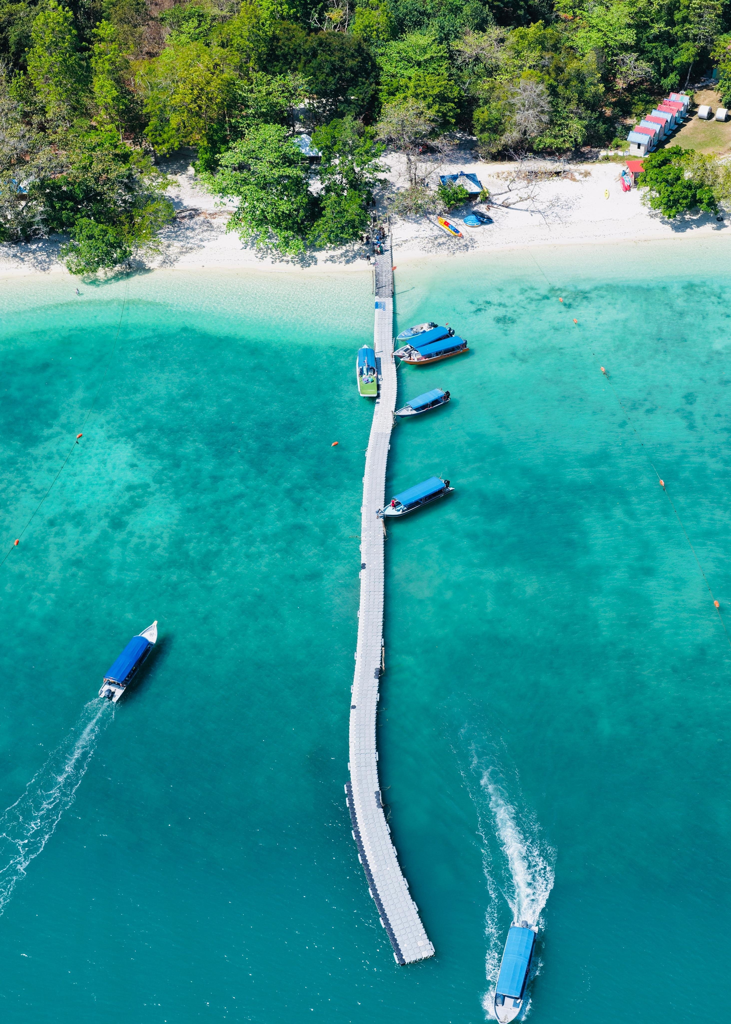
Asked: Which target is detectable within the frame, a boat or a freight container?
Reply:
boat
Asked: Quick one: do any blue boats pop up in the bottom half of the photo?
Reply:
Yes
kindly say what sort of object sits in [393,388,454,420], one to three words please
boat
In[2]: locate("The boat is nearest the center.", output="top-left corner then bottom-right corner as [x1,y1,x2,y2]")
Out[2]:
[380,474,458,523]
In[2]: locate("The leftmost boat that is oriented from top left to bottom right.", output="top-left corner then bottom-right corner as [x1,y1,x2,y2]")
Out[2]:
[437,215,463,234]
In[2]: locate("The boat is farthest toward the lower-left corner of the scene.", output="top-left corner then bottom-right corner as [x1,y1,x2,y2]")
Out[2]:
[99,619,157,704]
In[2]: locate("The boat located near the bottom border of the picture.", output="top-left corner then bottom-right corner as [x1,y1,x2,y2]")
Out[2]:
[494,919,539,1024]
